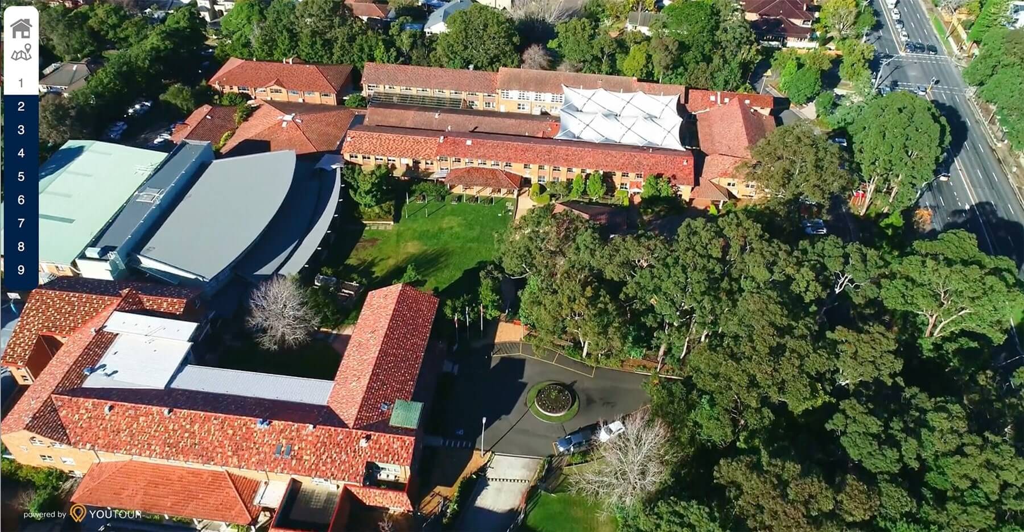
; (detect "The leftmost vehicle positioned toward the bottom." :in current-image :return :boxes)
[557,423,594,448]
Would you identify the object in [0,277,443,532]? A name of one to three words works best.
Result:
building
